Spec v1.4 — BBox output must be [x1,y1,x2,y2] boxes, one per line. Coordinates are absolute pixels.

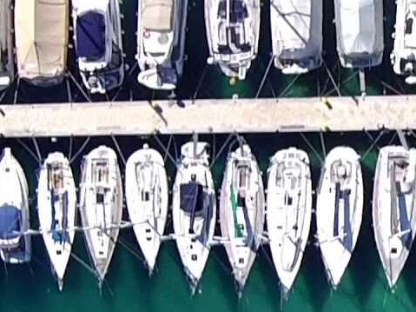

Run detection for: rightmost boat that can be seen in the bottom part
[370,129,416,290]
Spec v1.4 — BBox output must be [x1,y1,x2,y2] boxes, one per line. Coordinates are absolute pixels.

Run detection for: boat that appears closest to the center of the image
[180,142,212,159]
